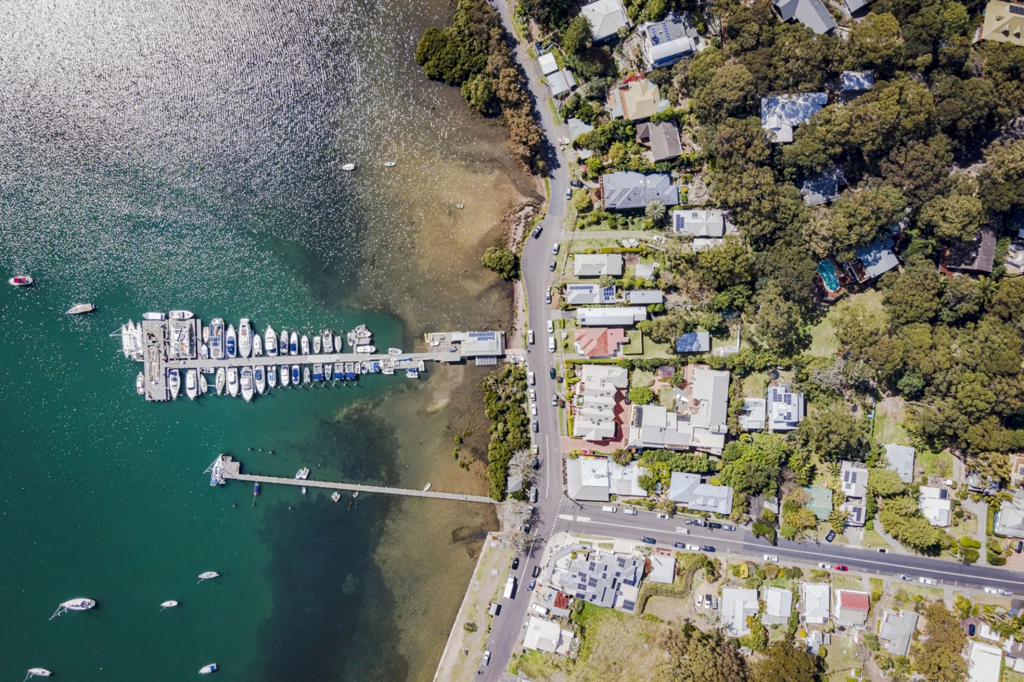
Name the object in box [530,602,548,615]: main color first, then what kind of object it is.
white vehicle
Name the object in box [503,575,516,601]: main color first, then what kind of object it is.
white vehicle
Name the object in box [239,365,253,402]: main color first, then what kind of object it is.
white boat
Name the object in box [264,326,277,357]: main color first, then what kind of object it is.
white boat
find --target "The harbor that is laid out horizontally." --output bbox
[142,319,460,400]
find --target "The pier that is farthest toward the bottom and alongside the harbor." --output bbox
[222,456,503,504]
